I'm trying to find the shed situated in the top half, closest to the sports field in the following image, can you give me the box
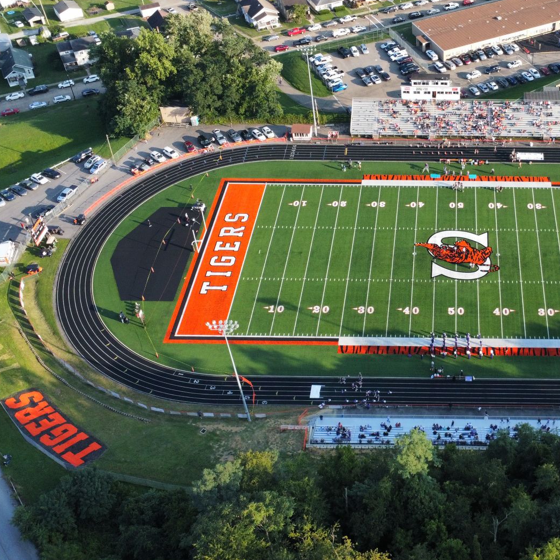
[291,120,312,141]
